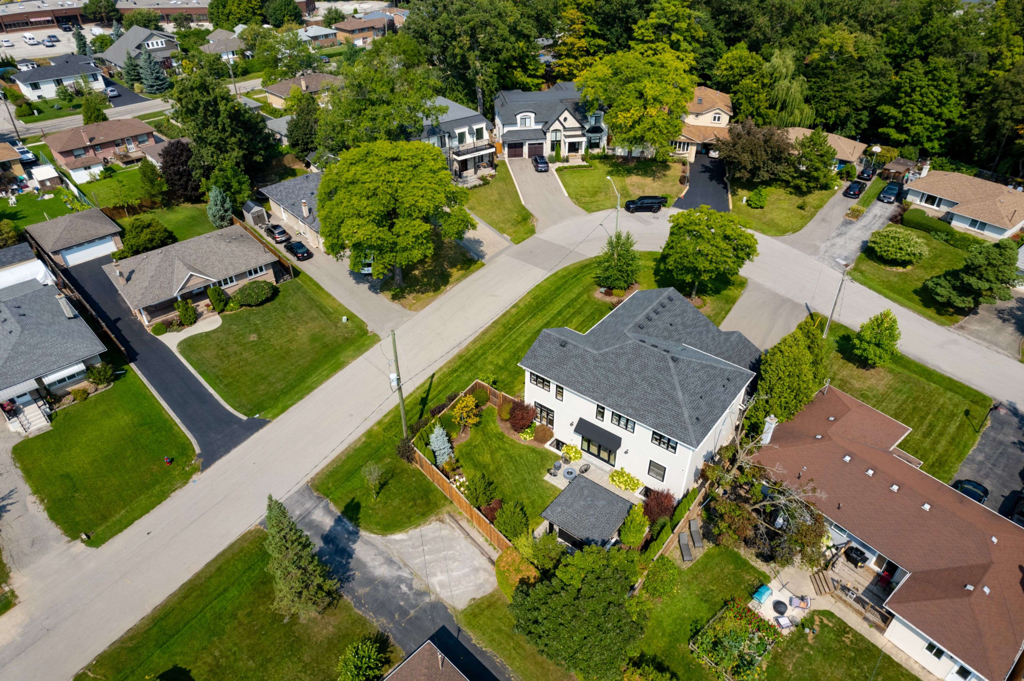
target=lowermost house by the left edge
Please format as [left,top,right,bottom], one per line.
[0,287,109,432]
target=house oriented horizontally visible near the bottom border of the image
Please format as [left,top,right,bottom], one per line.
[383,640,470,681]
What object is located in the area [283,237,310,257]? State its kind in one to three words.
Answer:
car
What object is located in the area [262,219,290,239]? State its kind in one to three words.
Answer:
car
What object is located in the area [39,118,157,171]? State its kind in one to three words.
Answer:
house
